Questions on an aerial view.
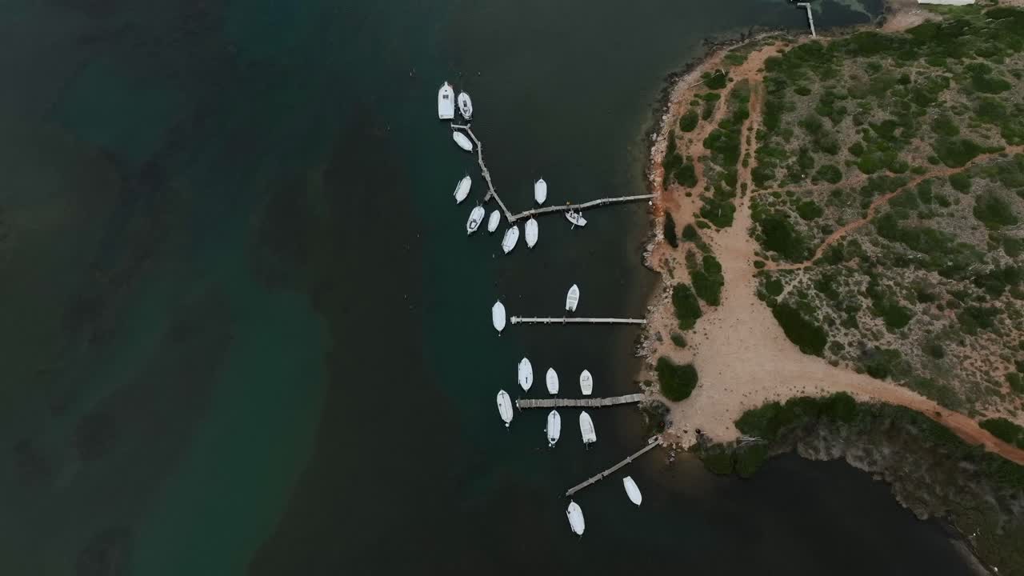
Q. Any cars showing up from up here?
No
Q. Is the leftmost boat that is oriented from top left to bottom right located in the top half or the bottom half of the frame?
top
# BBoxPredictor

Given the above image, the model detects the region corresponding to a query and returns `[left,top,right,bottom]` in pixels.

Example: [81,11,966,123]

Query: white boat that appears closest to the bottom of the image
[566,495,585,536]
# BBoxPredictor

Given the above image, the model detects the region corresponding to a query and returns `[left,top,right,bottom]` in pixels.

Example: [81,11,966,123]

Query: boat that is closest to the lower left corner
[497,389,513,424]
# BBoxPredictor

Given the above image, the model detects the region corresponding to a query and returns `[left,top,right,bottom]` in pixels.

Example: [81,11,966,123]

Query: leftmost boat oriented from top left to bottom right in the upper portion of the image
[451,129,473,155]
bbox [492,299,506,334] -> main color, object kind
white boat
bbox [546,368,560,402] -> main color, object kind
white boat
